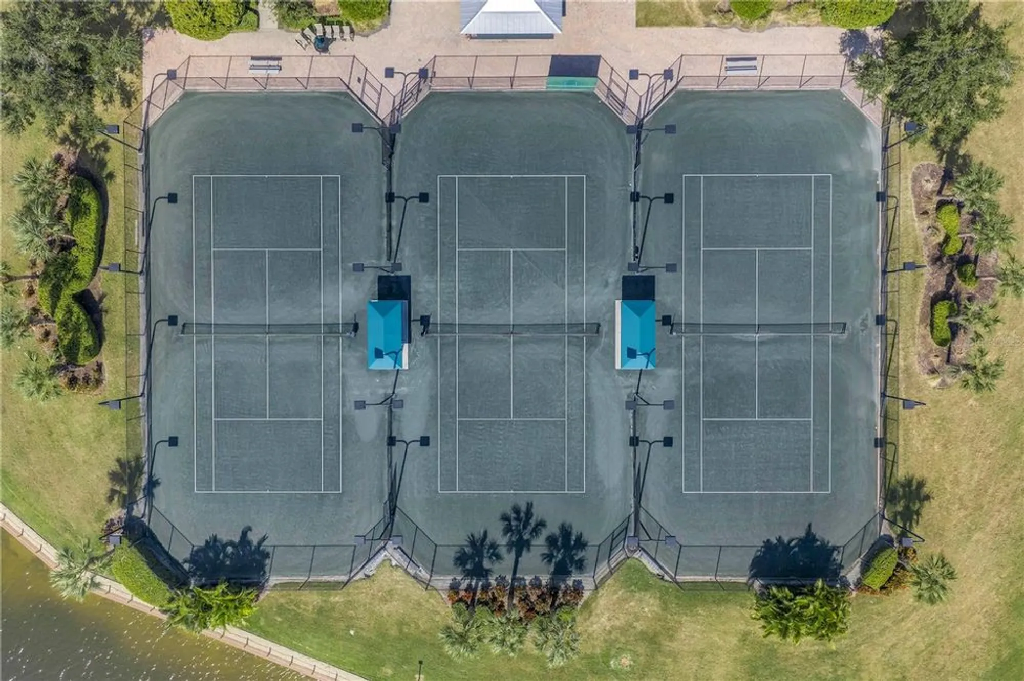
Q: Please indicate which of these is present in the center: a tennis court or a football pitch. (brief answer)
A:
tennis court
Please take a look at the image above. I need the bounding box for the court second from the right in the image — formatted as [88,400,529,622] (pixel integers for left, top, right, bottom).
[389,89,634,579]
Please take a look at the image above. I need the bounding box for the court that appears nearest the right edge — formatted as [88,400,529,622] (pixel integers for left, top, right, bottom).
[634,88,882,579]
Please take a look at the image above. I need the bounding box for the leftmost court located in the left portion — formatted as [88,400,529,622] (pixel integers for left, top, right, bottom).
[145,89,390,579]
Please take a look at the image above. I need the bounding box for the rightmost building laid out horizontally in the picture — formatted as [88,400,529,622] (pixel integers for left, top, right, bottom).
[461,0,562,41]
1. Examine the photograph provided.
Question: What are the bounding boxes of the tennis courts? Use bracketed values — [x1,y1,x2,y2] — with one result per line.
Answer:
[389,89,634,579]
[145,89,390,579]
[634,88,882,579]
